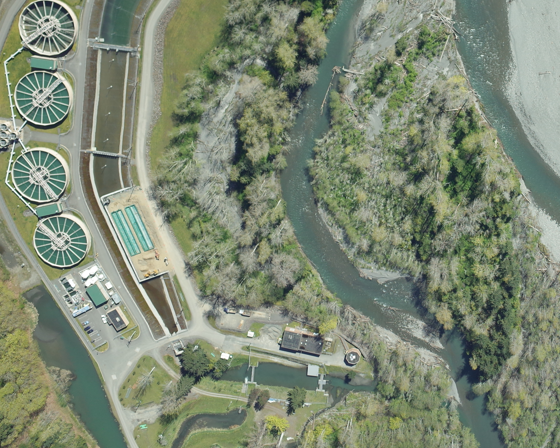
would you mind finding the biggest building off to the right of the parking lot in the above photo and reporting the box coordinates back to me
[280,325,324,355]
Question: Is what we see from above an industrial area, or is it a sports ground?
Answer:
industrial area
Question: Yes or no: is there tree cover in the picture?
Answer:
Yes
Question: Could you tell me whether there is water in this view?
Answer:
Yes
